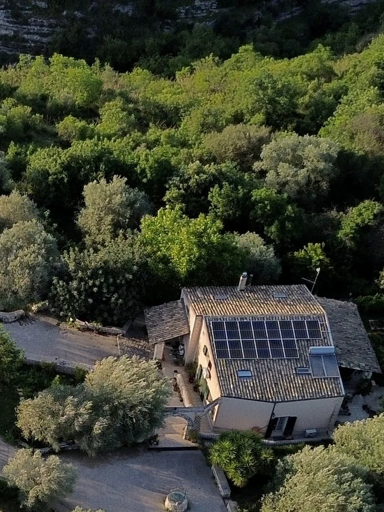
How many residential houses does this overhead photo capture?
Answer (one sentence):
Just 1 residential house appears in this view.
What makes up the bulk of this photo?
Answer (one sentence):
The scene is dominated by trees.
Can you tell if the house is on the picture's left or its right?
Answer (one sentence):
You can find the house on the right side of the picture.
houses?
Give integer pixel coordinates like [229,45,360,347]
[143,270,382,439]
